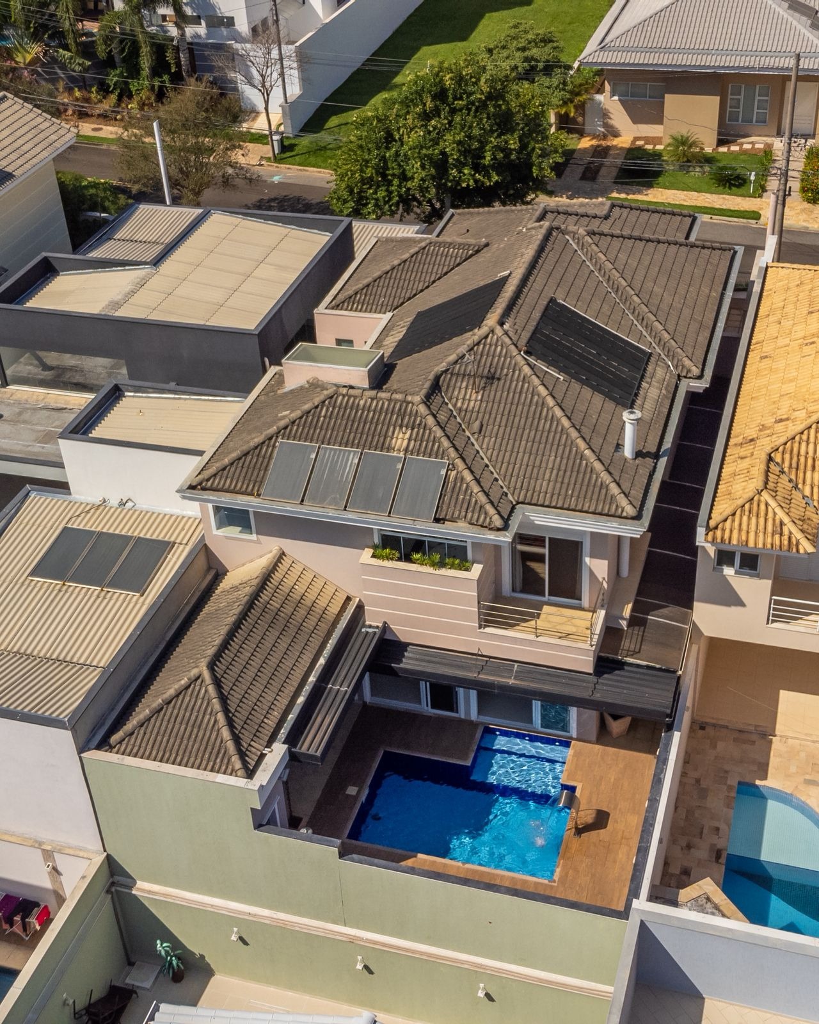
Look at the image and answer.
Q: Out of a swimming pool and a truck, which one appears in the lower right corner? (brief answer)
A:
swimming pool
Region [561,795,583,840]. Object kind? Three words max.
fountain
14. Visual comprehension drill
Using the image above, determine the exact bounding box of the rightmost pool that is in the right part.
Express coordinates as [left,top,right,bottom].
[717,777,819,939]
